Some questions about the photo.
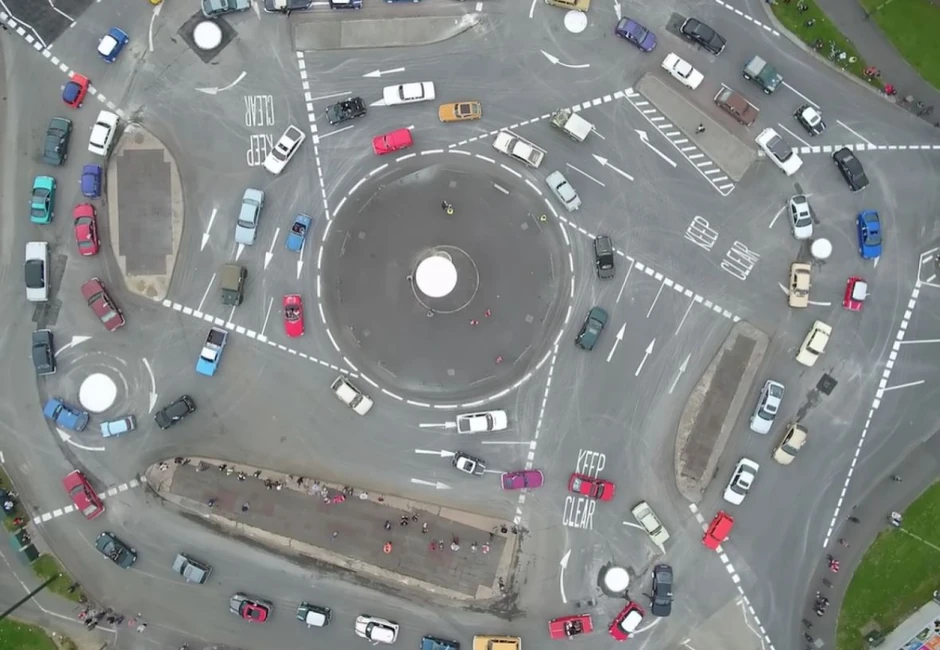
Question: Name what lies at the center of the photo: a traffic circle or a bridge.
traffic circle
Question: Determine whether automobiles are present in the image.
Yes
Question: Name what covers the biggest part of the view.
paved ground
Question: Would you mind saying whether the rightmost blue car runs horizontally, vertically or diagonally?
vertically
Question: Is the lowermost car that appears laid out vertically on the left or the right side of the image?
right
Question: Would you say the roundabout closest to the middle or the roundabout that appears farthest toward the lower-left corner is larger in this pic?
the roundabout closest to the middle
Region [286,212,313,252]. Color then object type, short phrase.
blue car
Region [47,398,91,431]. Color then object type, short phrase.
blue car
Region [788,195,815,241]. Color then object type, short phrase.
white car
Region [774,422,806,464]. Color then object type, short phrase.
white car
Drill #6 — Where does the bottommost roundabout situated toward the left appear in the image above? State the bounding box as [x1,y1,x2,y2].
[74,370,121,417]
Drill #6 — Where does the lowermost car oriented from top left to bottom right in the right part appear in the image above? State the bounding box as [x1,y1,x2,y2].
[632,500,669,544]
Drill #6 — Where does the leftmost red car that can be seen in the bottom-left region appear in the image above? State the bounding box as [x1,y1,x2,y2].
[65,470,106,519]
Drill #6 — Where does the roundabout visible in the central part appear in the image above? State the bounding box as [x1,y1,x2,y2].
[317,150,575,408]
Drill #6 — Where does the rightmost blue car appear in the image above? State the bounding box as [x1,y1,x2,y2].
[857,210,885,260]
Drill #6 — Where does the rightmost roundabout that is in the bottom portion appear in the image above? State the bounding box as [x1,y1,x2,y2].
[601,565,632,595]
